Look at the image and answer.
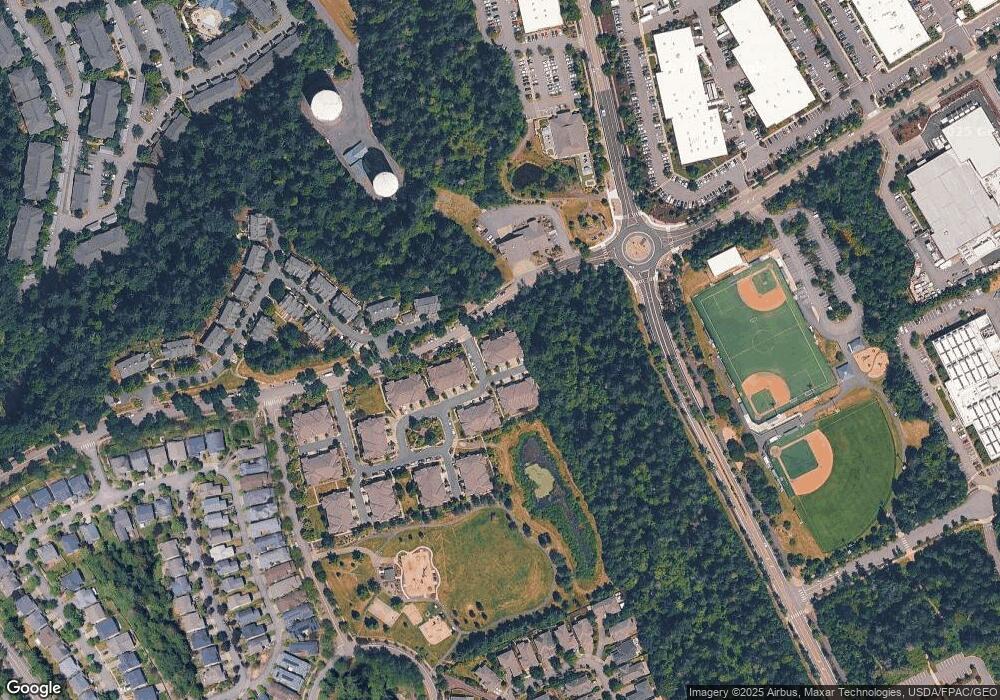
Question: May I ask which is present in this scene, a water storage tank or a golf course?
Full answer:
The image shows a water storage tank.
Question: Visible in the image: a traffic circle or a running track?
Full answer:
The one in the frame is a traffic circle.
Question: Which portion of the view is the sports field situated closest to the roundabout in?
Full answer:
You can find the sports field situated closest to the roundabout in the right area of the picture.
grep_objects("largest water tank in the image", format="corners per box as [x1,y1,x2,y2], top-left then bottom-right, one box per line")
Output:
[310,89,343,121]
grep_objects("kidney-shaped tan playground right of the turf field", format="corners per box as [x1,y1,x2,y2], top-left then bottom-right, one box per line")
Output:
[854,347,889,378]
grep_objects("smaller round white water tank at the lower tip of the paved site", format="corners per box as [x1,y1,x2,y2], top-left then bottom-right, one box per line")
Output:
[372,171,399,197]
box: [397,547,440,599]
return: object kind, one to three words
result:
playground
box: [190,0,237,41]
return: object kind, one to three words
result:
swimming pool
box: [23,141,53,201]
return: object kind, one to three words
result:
building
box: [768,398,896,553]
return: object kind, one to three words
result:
baseball field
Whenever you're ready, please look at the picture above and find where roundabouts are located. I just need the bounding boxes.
[611,221,666,275]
